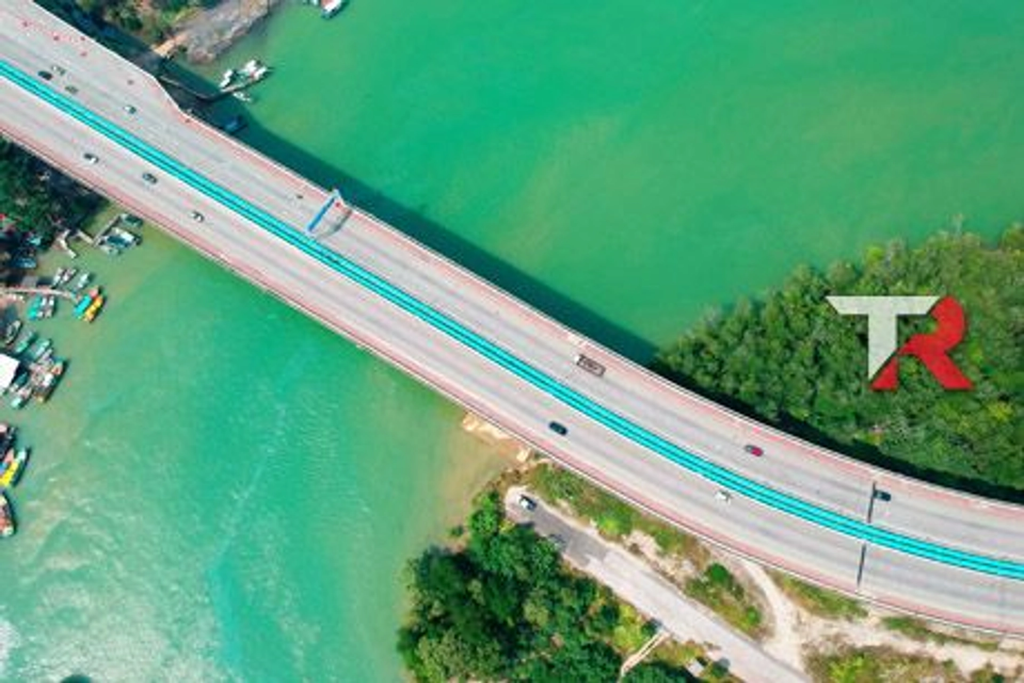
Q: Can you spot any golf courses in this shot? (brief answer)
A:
No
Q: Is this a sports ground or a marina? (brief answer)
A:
marina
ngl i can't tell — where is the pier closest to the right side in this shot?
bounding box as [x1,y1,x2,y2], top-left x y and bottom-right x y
[156,72,253,103]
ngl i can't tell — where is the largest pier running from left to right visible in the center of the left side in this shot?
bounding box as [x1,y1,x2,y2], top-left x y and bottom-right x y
[11,288,78,304]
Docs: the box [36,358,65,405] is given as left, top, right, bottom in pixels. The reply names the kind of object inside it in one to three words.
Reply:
boat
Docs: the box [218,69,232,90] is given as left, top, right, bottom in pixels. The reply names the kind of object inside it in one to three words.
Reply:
boat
